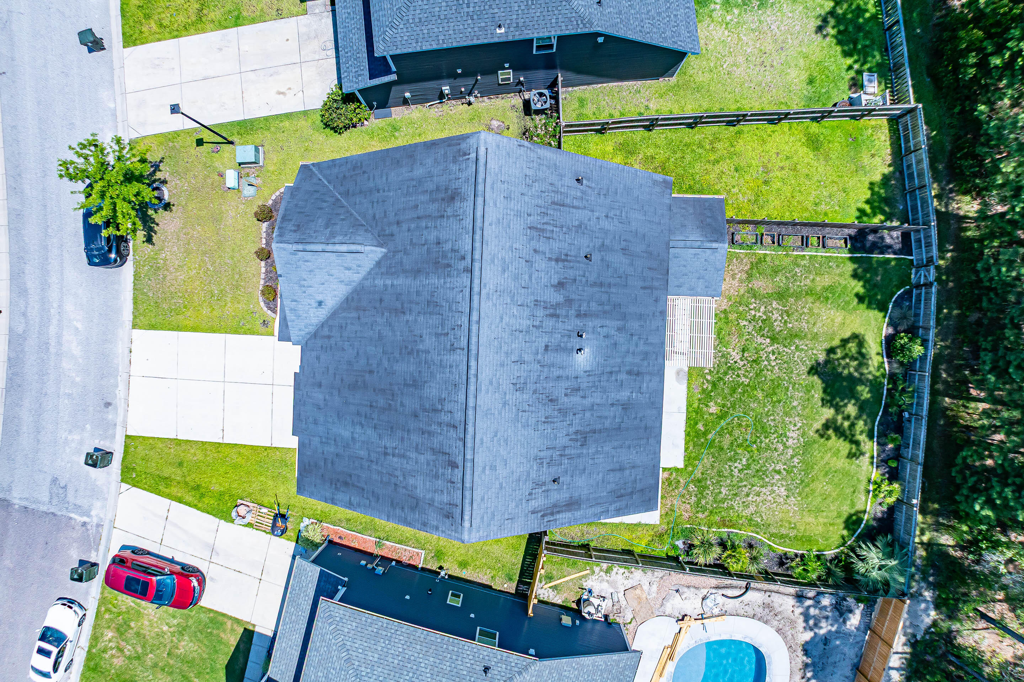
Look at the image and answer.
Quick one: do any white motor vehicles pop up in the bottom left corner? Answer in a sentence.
Yes, a white motor vehicle shows up in the bottom left corner.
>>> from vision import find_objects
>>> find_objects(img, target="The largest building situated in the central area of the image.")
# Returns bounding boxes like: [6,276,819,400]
[273,131,728,543]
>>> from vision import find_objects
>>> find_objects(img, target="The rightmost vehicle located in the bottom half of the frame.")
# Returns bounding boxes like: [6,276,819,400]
[102,548,207,610]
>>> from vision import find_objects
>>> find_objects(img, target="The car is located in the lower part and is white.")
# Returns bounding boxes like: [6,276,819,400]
[25,595,87,682]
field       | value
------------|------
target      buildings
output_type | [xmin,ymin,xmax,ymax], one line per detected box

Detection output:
[254,543,646,682]
[334,0,700,113]
[273,131,728,543]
